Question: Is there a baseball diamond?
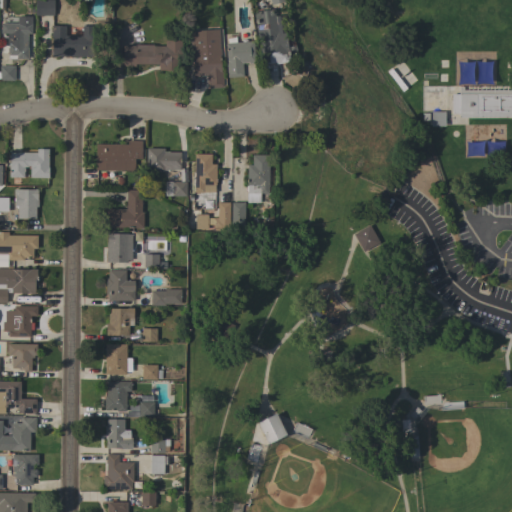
Yes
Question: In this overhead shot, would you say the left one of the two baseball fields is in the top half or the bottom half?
bottom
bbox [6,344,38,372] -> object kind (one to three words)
house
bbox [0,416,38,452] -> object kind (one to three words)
house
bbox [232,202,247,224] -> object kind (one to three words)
building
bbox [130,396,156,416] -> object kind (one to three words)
building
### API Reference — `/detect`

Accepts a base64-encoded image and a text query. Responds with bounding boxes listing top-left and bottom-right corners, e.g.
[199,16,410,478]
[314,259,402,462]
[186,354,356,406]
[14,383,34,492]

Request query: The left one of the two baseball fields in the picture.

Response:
[262,438,400,512]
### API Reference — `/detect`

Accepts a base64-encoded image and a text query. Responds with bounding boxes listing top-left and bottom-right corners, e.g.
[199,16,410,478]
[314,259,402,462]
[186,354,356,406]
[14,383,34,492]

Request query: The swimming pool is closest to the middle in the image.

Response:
[142,276,164,288]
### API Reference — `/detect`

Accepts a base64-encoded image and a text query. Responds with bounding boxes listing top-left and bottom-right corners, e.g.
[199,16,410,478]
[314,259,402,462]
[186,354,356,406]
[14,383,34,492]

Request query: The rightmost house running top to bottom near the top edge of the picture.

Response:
[268,9,290,62]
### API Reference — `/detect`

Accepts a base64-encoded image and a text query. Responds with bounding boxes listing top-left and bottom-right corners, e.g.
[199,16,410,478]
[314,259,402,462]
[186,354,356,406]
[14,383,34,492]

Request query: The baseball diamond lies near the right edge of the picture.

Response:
[422,409,512,512]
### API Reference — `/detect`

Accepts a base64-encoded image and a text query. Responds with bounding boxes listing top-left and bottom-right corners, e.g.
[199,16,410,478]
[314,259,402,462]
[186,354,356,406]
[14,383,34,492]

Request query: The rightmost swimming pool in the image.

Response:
[239,7,251,29]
